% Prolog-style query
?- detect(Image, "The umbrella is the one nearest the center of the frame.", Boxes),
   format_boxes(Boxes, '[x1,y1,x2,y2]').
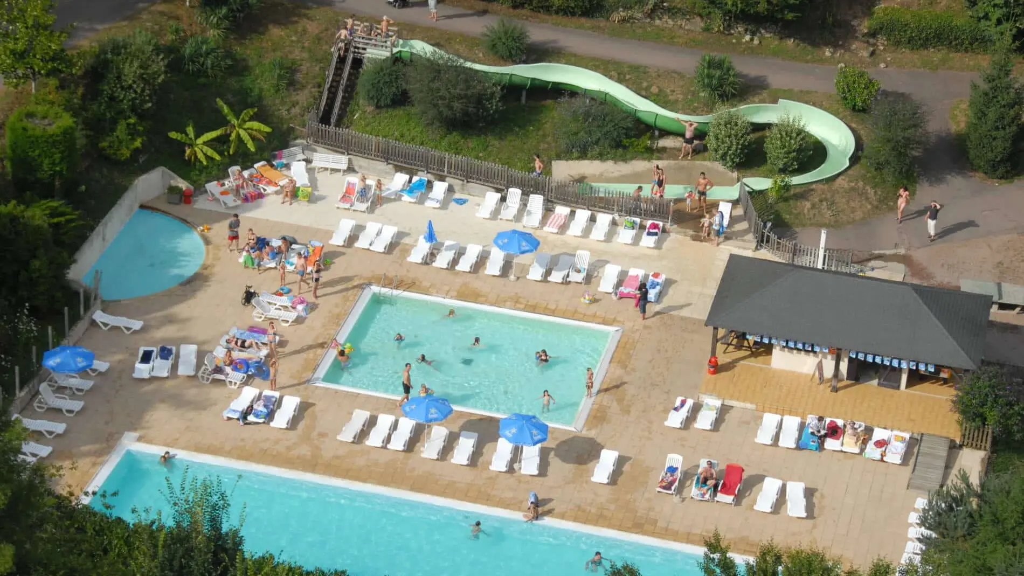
[494,233,537,282]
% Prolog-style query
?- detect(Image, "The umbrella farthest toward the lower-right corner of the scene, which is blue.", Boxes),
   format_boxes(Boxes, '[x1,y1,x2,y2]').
[499,418,547,472]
